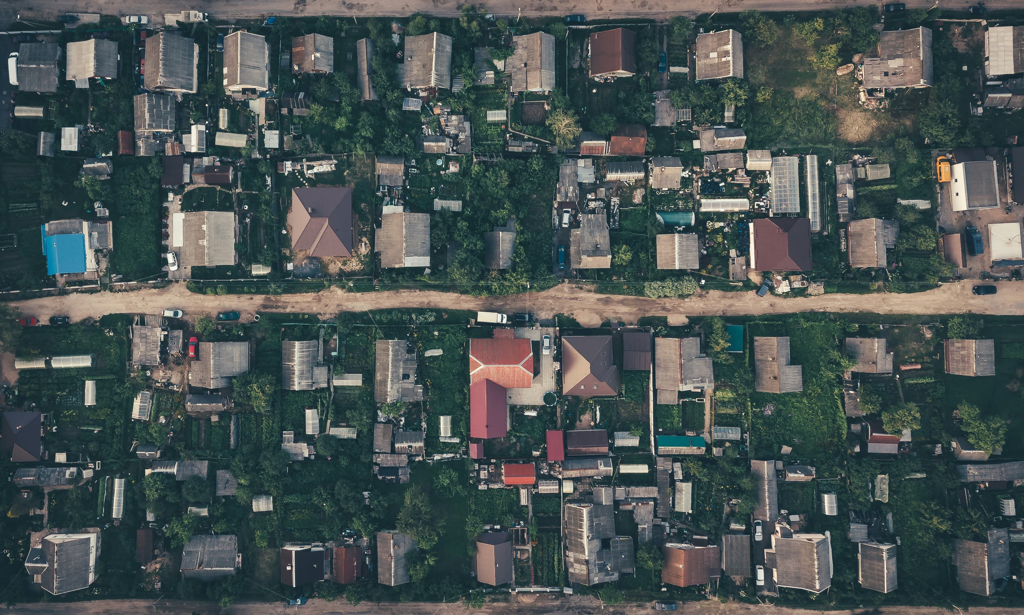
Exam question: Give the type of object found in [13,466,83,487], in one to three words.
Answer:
shed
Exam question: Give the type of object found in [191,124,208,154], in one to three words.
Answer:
greenhouse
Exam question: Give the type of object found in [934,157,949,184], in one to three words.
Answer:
vehicle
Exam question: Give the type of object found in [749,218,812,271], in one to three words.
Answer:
house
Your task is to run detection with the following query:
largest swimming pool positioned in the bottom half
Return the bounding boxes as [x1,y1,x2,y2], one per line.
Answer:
[542,392,557,407]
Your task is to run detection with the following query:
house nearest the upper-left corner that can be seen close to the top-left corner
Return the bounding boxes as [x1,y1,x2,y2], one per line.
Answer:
[17,43,64,93]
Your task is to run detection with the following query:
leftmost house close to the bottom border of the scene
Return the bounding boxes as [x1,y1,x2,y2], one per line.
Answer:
[23,532,102,592]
